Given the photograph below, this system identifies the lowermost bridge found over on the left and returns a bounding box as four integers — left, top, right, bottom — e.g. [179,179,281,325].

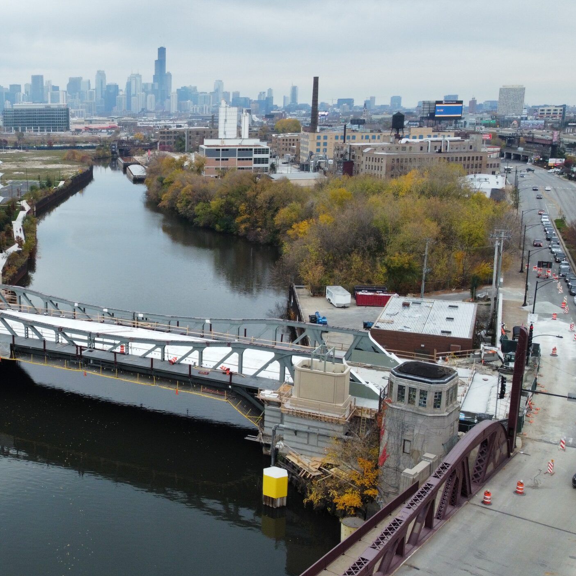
[0,284,395,401]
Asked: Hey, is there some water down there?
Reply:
Yes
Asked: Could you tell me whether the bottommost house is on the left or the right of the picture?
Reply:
right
